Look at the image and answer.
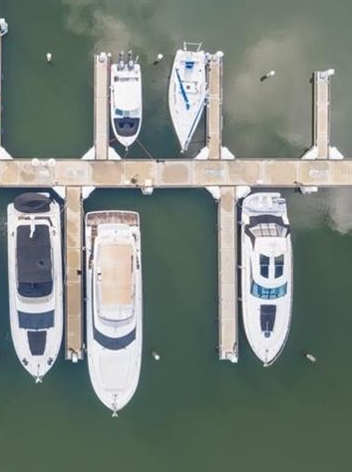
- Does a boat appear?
Yes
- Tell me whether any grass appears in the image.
No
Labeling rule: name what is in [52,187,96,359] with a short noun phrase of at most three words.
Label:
pier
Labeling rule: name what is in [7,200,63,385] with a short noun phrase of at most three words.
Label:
boat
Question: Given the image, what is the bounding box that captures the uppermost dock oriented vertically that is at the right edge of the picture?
[300,71,342,159]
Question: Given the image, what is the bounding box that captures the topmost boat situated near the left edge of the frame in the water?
[14,192,52,213]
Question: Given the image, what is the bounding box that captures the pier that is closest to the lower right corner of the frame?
[205,187,252,359]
